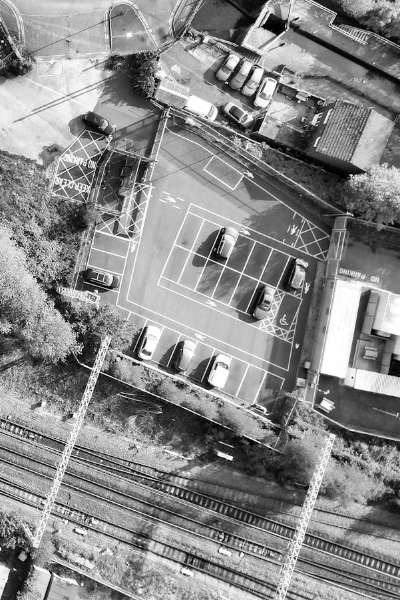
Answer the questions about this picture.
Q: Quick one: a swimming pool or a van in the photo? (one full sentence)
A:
This aerial view contains a van.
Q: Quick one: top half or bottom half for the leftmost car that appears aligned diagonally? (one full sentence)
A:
The leftmost car that appears aligned diagonally sits in the top half of the picture.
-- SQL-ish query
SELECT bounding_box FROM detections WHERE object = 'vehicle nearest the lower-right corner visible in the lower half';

[206,352,231,389]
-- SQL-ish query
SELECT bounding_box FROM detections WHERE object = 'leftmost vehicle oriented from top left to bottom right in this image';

[80,108,117,138]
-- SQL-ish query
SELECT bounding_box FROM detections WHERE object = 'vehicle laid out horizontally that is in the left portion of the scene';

[82,269,119,287]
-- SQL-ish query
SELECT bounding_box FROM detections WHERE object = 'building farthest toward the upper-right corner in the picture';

[296,98,397,171]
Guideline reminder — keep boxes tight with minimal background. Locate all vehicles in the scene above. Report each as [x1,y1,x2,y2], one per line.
[221,101,254,126]
[251,284,276,320]
[240,64,265,98]
[82,269,119,287]
[137,324,159,359]
[183,93,217,123]
[206,352,231,389]
[214,225,239,260]
[175,338,195,371]
[214,52,239,84]
[250,74,279,110]
[228,59,254,91]
[286,258,309,290]
[80,108,117,138]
